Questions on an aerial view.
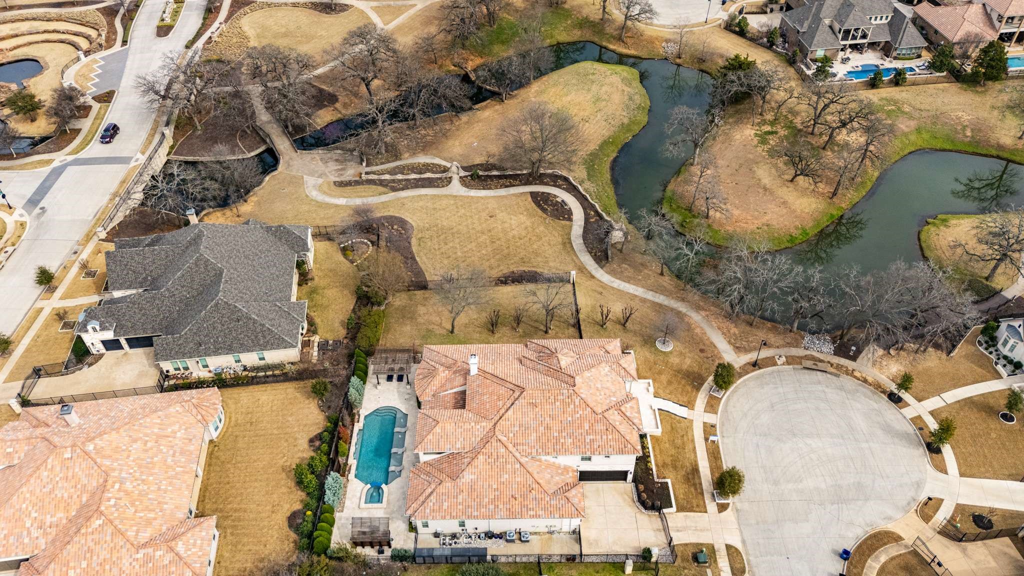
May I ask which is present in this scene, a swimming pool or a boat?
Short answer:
swimming pool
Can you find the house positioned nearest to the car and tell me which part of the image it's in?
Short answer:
left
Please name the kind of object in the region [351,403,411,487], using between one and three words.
swimming pool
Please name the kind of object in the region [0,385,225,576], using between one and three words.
house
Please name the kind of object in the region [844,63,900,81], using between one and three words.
swimming pool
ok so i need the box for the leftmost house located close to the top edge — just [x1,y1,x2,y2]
[764,0,929,64]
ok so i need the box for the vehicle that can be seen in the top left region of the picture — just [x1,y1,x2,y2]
[100,123,117,141]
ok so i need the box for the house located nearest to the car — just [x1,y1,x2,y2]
[68,204,313,375]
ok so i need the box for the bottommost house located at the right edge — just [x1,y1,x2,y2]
[994,294,1024,361]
